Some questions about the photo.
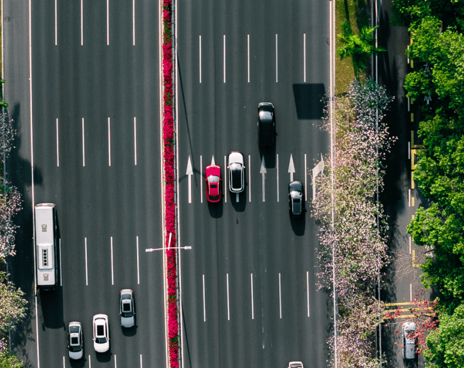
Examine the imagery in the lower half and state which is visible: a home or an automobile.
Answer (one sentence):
Looking in the lower half, you will find an automobile.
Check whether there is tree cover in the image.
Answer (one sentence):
Yes, some tree cover is visible.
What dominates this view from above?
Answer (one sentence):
The largest share of the image is taken up by paved ground.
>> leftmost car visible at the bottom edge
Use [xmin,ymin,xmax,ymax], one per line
[67,319,85,360]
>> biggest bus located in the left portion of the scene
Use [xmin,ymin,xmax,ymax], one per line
[33,199,58,291]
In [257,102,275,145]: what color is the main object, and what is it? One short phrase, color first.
black vehicle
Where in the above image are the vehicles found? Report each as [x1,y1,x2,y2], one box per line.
[67,319,85,360]
[226,151,245,192]
[286,360,305,368]
[205,164,222,203]
[92,313,110,352]
[257,102,275,145]
[33,199,58,291]
[118,288,136,327]
[401,319,419,360]
[287,180,303,217]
